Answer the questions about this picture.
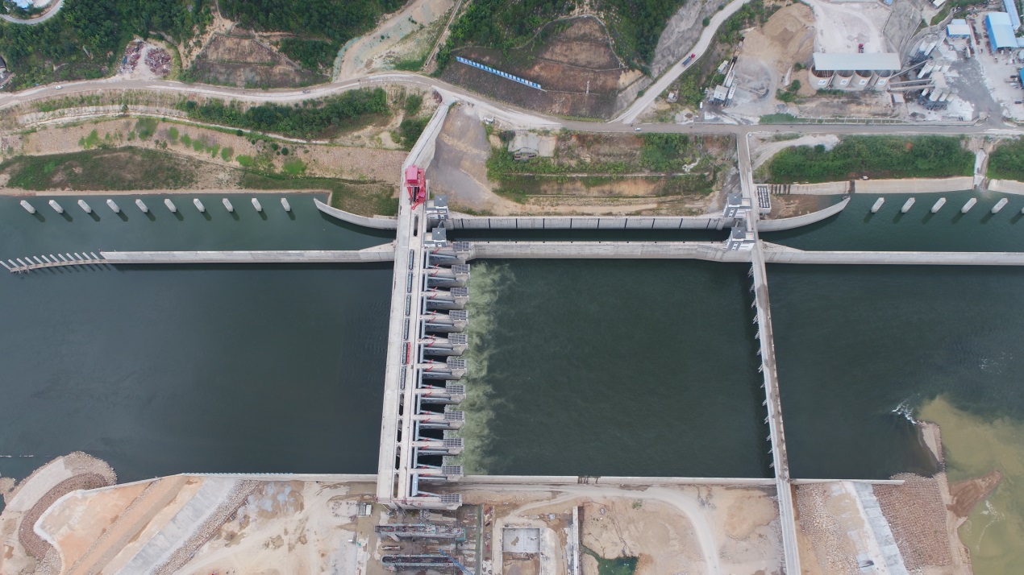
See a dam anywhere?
Yes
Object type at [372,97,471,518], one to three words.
dam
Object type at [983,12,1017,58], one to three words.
building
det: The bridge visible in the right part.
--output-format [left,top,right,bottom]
[737,141,807,575]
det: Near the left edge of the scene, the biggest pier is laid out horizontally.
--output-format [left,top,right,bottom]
[2,249,108,270]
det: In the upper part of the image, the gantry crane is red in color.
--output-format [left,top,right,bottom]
[403,165,428,211]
